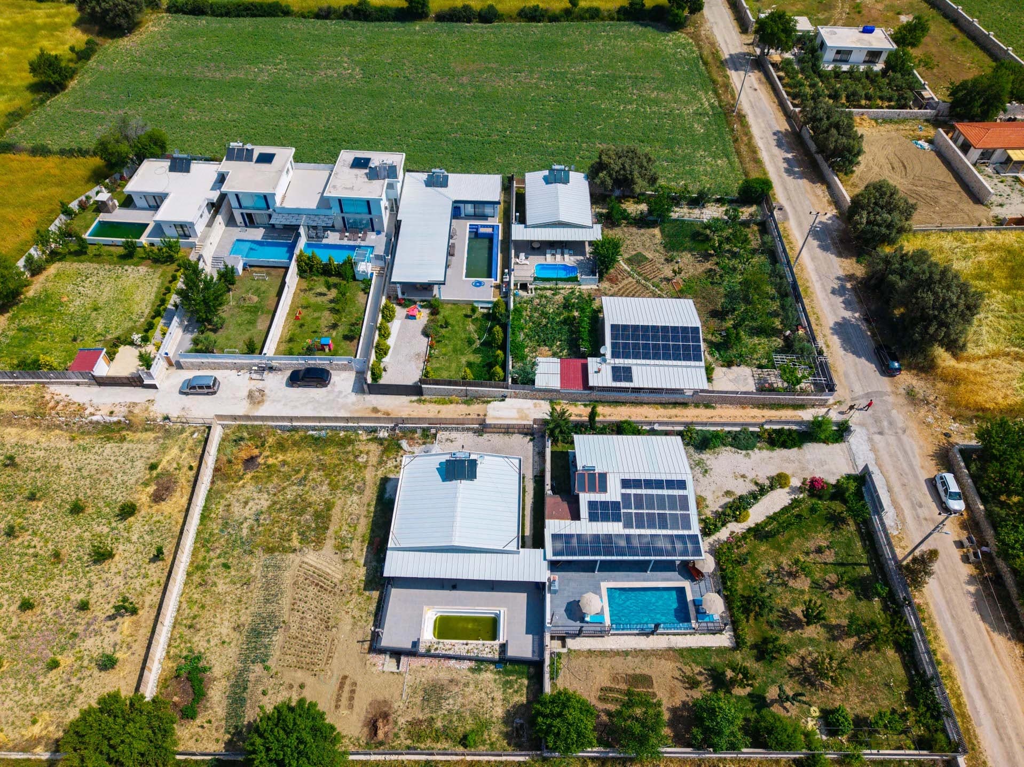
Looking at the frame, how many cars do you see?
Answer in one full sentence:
My tally gives 4 cars in this view.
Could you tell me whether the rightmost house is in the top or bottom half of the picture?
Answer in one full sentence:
The rightmost house is in the top half of the image.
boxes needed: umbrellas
[699,591,727,617]
[577,592,604,618]
[693,554,717,575]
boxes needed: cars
[288,368,333,389]
[931,470,965,518]
[178,375,223,397]
[870,346,902,378]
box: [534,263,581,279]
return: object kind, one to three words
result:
swimming pool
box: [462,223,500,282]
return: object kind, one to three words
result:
swimming pool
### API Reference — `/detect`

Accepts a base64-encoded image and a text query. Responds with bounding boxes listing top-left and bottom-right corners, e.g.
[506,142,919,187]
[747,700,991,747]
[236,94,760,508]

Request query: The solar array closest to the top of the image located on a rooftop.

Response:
[612,325,705,358]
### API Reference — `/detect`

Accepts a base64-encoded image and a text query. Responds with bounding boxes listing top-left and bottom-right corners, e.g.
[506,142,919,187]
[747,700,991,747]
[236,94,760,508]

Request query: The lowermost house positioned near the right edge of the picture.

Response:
[952,120,1024,163]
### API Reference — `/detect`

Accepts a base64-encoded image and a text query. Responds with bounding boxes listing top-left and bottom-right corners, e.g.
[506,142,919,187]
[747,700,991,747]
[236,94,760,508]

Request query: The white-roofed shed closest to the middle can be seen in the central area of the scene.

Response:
[535,357,561,389]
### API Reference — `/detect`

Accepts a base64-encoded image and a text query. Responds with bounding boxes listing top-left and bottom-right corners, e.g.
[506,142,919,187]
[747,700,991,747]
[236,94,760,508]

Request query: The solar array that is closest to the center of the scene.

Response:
[615,365,637,381]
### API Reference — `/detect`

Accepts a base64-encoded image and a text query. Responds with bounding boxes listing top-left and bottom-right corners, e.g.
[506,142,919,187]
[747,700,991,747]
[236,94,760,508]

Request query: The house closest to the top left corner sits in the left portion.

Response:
[89,188,116,211]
